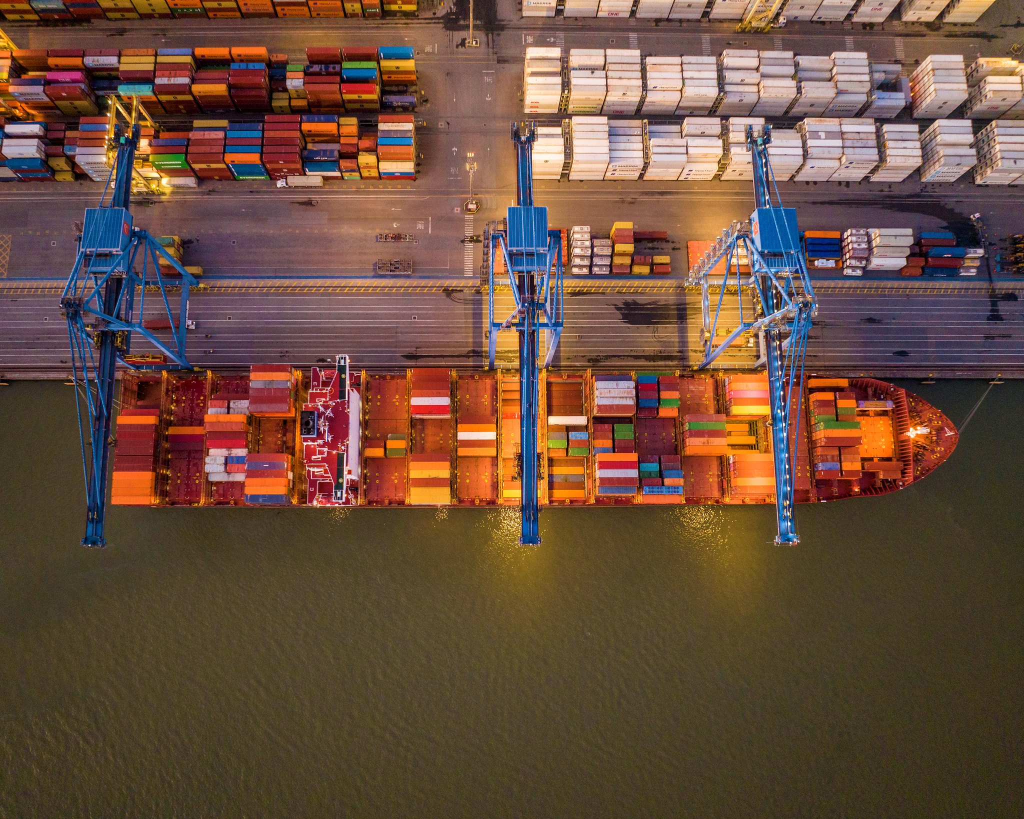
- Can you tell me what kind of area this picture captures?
port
